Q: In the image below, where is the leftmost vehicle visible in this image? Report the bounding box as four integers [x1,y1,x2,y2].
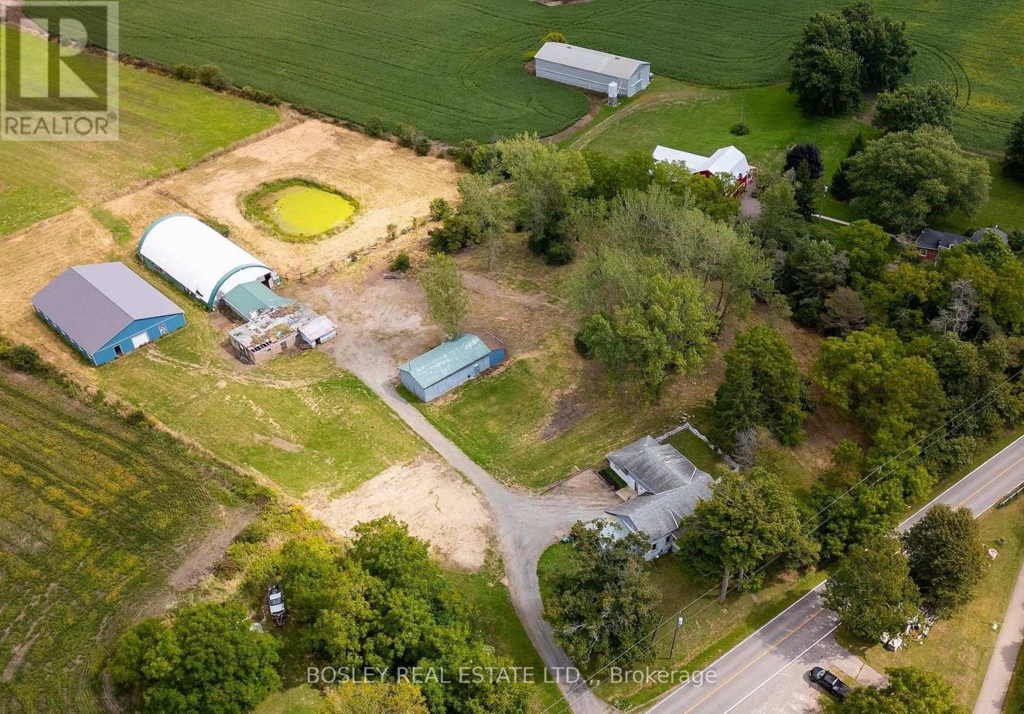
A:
[268,584,285,623]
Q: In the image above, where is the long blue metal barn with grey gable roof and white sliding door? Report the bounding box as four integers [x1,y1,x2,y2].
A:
[29,262,188,368]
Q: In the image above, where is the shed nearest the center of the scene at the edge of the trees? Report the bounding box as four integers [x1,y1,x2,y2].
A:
[397,333,506,404]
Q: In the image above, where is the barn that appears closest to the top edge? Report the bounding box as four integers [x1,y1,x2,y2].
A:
[534,42,653,98]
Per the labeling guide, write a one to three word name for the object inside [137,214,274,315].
barn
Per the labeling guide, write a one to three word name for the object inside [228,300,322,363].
building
